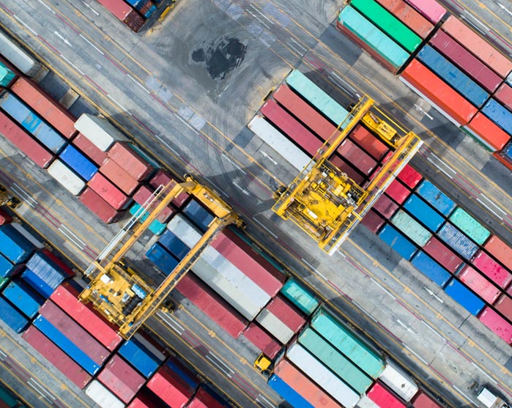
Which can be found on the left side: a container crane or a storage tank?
container crane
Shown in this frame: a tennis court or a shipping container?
shipping container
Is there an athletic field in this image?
No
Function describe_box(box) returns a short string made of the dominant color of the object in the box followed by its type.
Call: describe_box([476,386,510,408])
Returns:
white truck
